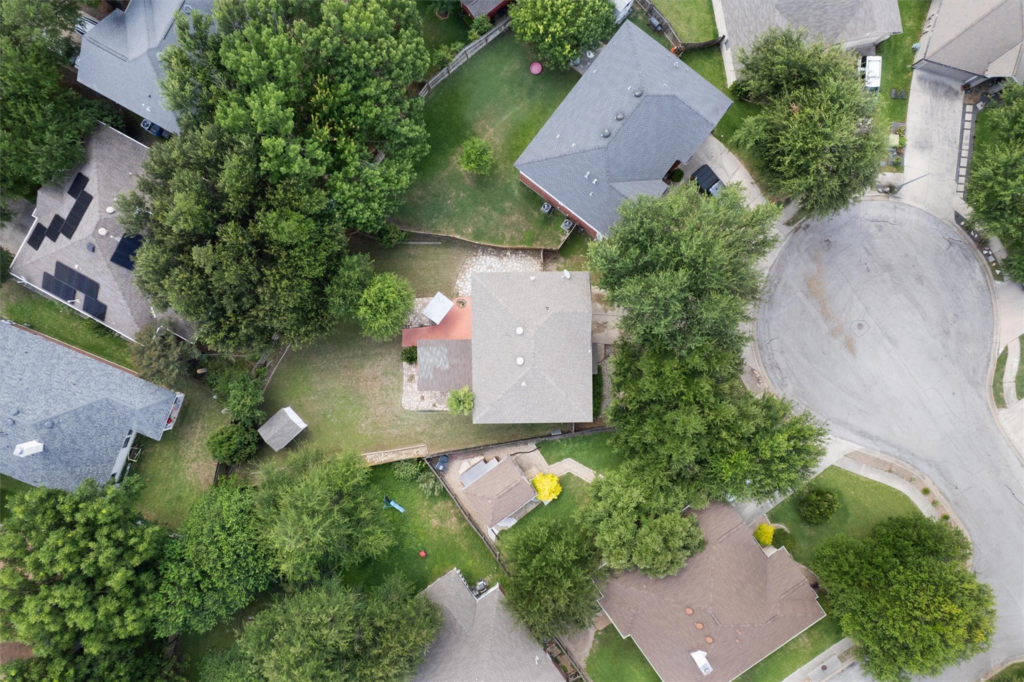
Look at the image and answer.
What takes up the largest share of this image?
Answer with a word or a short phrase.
trees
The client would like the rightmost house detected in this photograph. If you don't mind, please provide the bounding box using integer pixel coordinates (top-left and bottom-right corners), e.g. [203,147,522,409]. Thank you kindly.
[911,0,1024,85]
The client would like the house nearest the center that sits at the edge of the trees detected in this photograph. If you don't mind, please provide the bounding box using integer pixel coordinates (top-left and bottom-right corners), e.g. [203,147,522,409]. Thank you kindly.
[417,269,599,424]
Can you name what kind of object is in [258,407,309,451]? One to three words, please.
shed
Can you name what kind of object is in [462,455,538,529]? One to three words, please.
house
